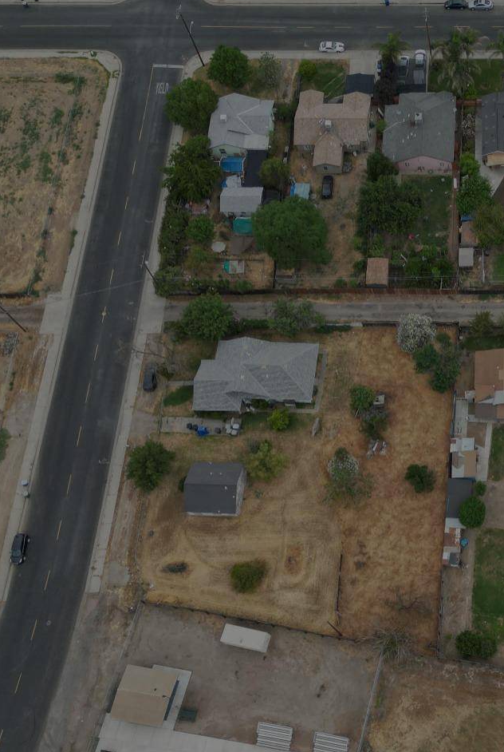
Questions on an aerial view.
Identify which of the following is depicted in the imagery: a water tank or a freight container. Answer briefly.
freight container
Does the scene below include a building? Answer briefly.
Yes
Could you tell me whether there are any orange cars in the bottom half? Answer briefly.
No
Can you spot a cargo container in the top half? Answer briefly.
No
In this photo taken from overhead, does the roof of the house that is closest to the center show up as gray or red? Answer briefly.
gray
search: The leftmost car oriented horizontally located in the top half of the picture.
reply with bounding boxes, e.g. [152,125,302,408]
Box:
[317,39,346,52]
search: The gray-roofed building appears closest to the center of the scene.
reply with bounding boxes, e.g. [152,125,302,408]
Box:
[192,336,320,416]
